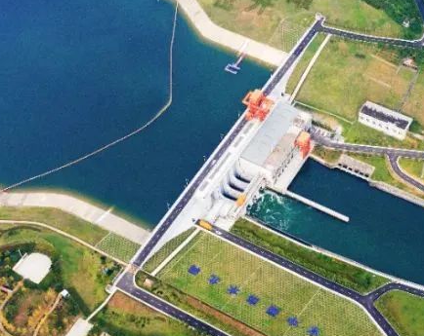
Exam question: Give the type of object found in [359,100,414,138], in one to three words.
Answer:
building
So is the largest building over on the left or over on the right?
right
